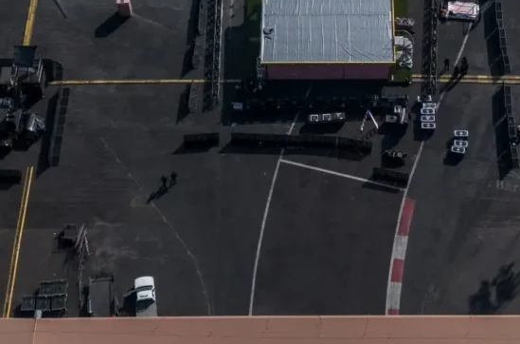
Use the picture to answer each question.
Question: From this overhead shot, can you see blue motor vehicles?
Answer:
No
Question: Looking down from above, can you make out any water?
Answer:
No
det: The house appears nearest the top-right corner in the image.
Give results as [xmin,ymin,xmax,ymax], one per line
[258,0,396,82]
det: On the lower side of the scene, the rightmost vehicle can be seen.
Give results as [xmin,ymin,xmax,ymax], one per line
[129,267,158,315]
